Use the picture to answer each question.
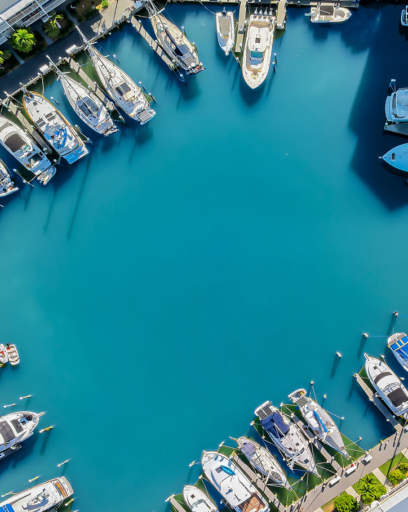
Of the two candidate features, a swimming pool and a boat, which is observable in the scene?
boat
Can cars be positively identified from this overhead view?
No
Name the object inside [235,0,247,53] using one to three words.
pier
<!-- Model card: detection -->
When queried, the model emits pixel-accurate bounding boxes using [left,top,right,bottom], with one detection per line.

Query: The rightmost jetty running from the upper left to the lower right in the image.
[355,375,403,430]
